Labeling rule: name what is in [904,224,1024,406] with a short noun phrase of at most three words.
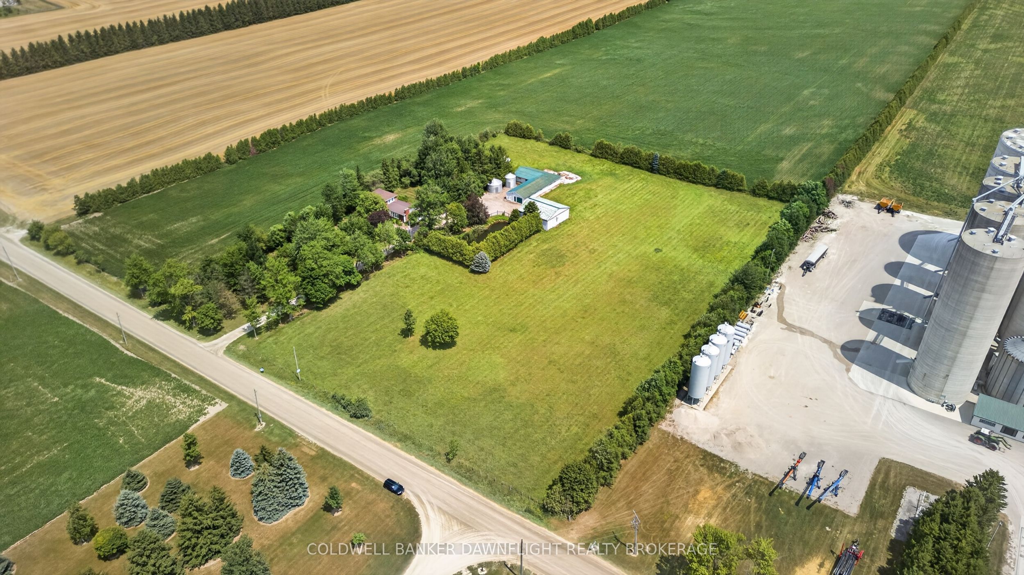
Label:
silo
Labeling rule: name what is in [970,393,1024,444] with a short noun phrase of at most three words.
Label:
building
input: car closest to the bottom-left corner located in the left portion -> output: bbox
[384,472,409,492]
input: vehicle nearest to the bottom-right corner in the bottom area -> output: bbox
[966,427,1010,454]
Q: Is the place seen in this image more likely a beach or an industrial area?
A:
industrial area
